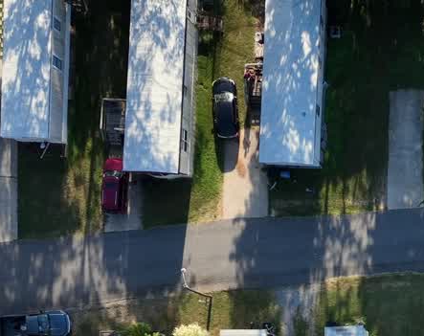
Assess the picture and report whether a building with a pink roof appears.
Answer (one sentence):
No, the scene contains no building with a pink roof.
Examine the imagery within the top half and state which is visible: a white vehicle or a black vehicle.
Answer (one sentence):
You can see a black vehicle within the top half.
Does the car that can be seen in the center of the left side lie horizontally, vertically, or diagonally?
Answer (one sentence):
I'd say the car that can be seen in the center of the left side is aligned vertically in the picture.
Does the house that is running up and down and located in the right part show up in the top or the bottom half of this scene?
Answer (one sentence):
The house that is running up and down and located in the right part is in the top half of the image.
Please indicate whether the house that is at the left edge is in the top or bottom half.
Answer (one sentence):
Seen from above, the house that is at the left edge lies in the top half of the view.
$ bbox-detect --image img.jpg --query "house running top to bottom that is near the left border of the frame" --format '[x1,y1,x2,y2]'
[0,0,71,163]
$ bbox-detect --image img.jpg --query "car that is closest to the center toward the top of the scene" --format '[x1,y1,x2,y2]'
[212,80,240,140]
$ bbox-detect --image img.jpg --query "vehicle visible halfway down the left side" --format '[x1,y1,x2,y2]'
[101,158,129,215]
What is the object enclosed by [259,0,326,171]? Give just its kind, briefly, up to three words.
house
